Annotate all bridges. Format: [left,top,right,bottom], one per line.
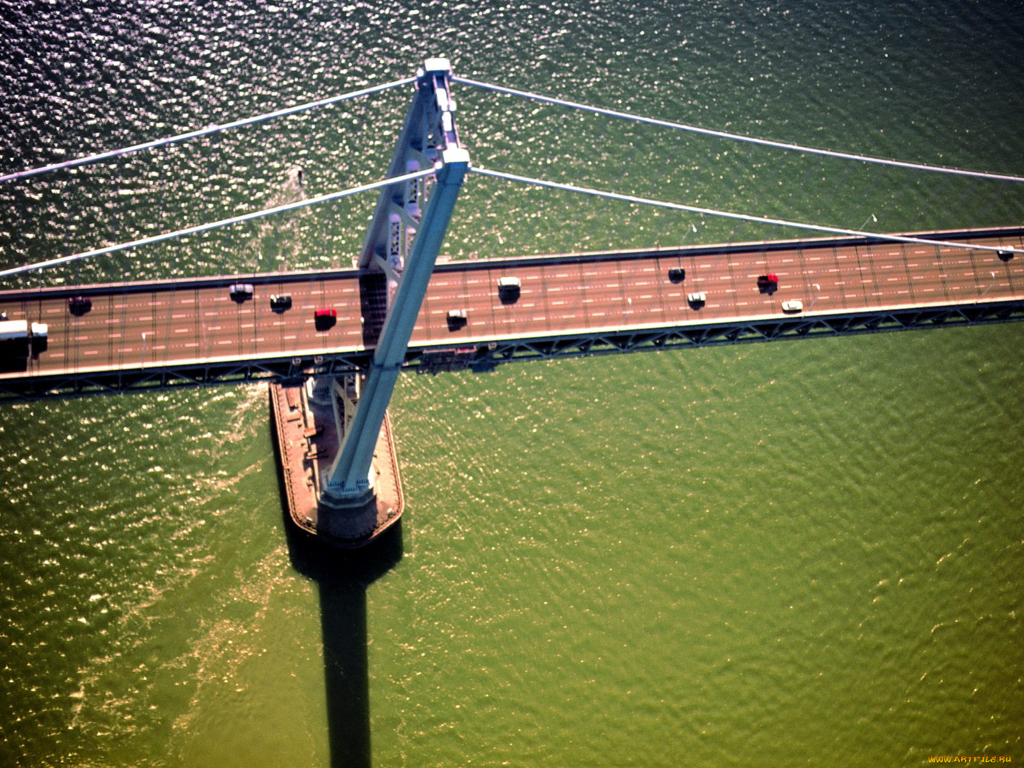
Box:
[0,61,1024,495]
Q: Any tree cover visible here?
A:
No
